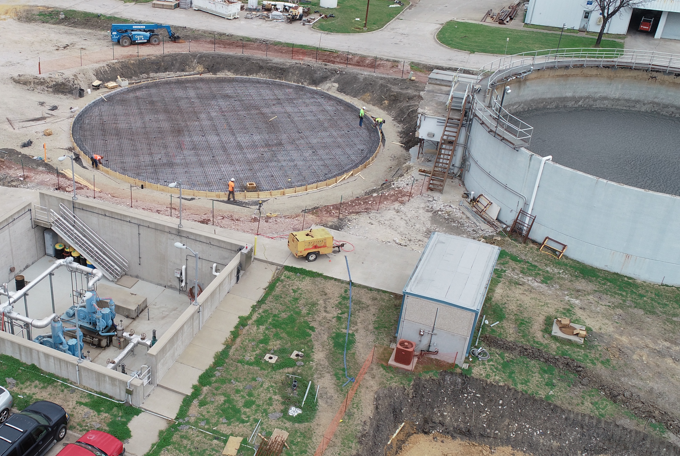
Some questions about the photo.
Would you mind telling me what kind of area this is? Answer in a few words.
industrial area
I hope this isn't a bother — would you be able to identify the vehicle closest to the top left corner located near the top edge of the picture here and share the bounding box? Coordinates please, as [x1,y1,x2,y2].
[112,15,192,47]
